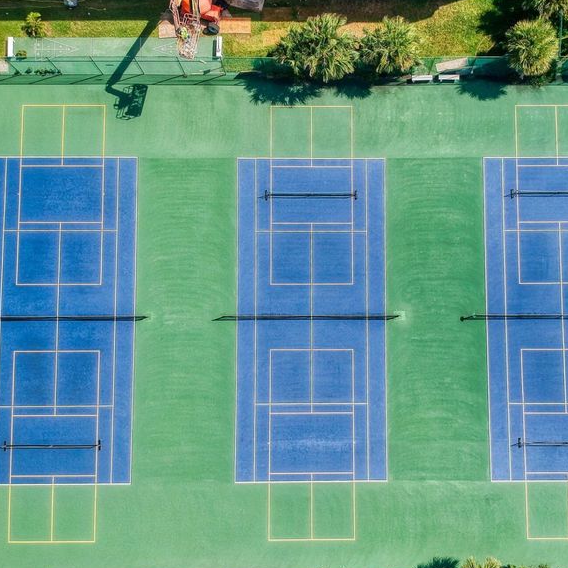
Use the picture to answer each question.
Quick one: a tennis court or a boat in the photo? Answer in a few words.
tennis court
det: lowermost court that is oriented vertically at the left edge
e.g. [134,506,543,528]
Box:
[7,351,99,543]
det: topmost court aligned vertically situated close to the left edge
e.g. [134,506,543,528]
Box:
[17,105,106,284]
